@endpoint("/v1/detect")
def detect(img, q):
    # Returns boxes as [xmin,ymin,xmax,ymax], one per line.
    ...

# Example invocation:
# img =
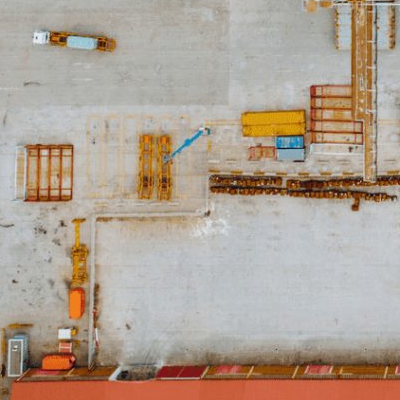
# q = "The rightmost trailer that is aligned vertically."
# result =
[156,134,174,200]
